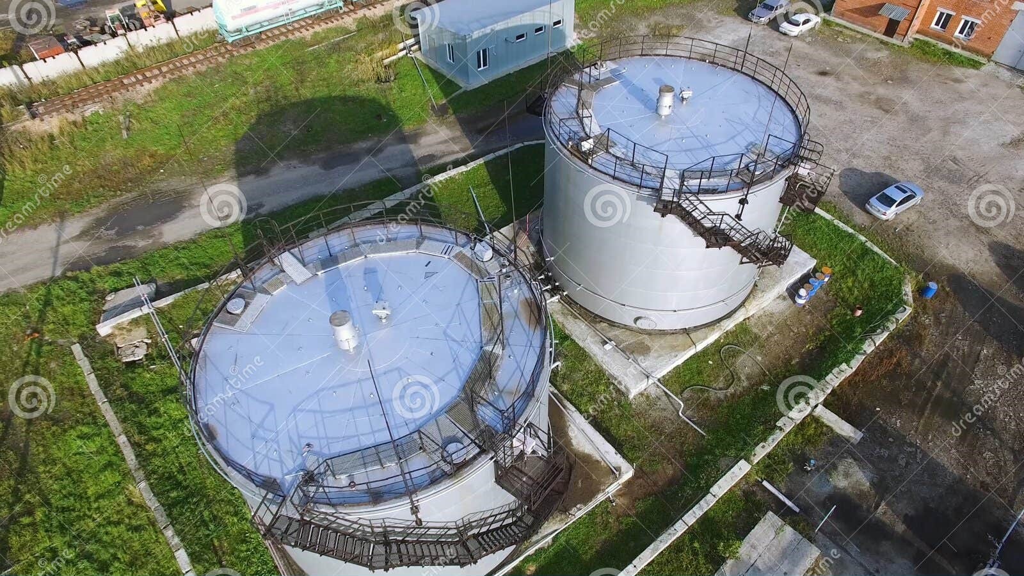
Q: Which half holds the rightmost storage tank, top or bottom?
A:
top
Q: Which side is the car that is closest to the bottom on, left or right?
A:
right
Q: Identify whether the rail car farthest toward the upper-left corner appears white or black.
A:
white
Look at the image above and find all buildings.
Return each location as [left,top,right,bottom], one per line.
[820,0,1024,78]
[414,0,575,91]
[14,25,67,63]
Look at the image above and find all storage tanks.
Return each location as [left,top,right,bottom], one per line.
[519,0,833,334]
[176,98,581,576]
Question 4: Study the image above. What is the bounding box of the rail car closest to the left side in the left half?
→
[217,0,349,48]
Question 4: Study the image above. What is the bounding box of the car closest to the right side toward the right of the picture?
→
[868,181,925,219]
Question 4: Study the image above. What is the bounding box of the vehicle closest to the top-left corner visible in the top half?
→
[100,8,126,39]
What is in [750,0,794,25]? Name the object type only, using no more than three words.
car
